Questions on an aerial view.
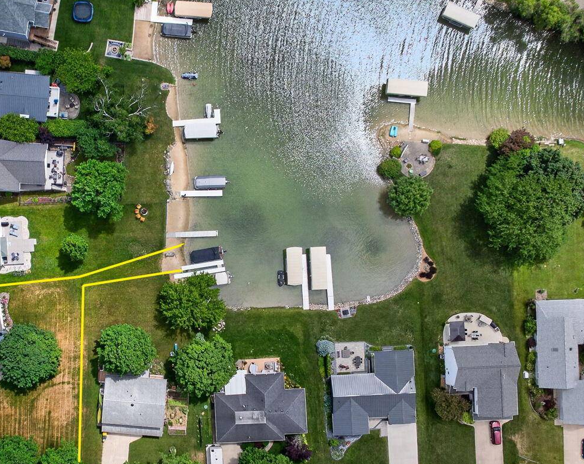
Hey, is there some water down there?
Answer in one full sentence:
Yes, there's water in this view.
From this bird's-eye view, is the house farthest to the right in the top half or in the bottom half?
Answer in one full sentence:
You can find the house farthest to the right in the bottom half.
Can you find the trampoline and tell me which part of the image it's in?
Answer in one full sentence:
The trampoline is in the top left part of the image.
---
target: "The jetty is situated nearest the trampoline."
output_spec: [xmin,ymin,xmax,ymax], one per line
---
[150,2,193,25]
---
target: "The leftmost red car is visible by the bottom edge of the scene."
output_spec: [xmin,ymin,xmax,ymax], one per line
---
[490,420,503,445]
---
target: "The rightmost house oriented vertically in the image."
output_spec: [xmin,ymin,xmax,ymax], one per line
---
[532,298,584,426]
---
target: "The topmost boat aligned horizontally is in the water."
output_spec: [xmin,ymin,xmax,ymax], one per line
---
[161,24,194,38]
